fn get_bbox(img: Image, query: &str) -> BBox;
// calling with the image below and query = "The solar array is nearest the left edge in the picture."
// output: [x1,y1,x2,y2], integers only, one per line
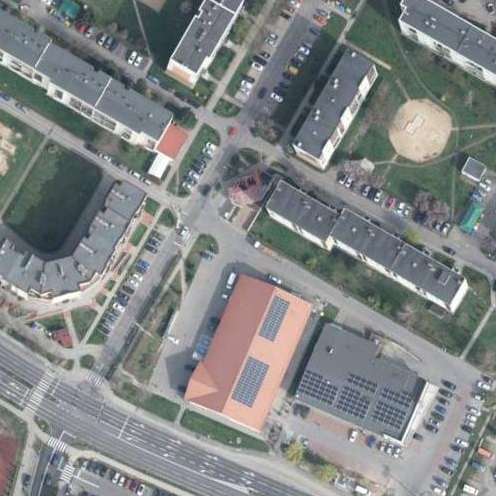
[233,357,269,408]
